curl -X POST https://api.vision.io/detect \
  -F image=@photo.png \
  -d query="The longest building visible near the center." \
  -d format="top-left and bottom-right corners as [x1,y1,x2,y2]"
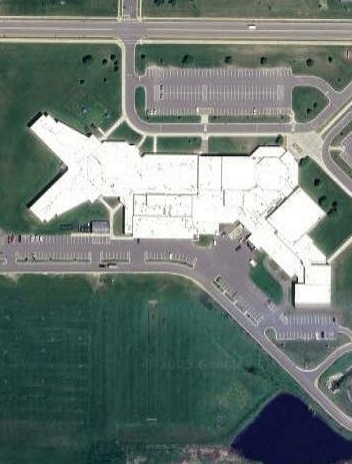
[28,115,331,305]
